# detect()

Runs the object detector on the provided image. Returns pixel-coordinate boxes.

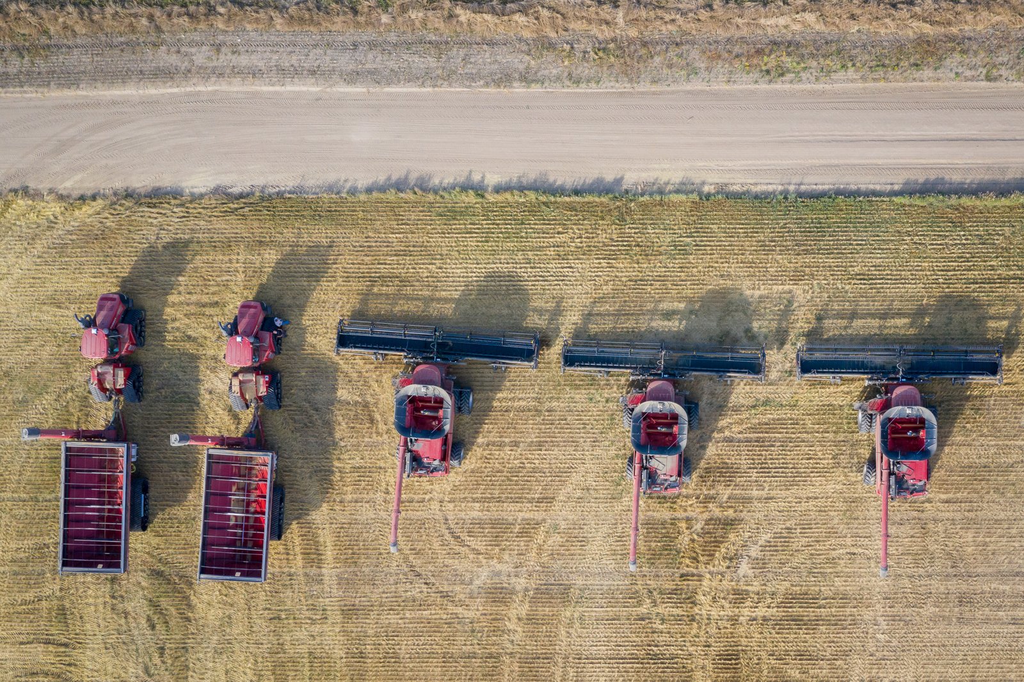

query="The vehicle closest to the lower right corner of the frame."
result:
[795,342,1004,575]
